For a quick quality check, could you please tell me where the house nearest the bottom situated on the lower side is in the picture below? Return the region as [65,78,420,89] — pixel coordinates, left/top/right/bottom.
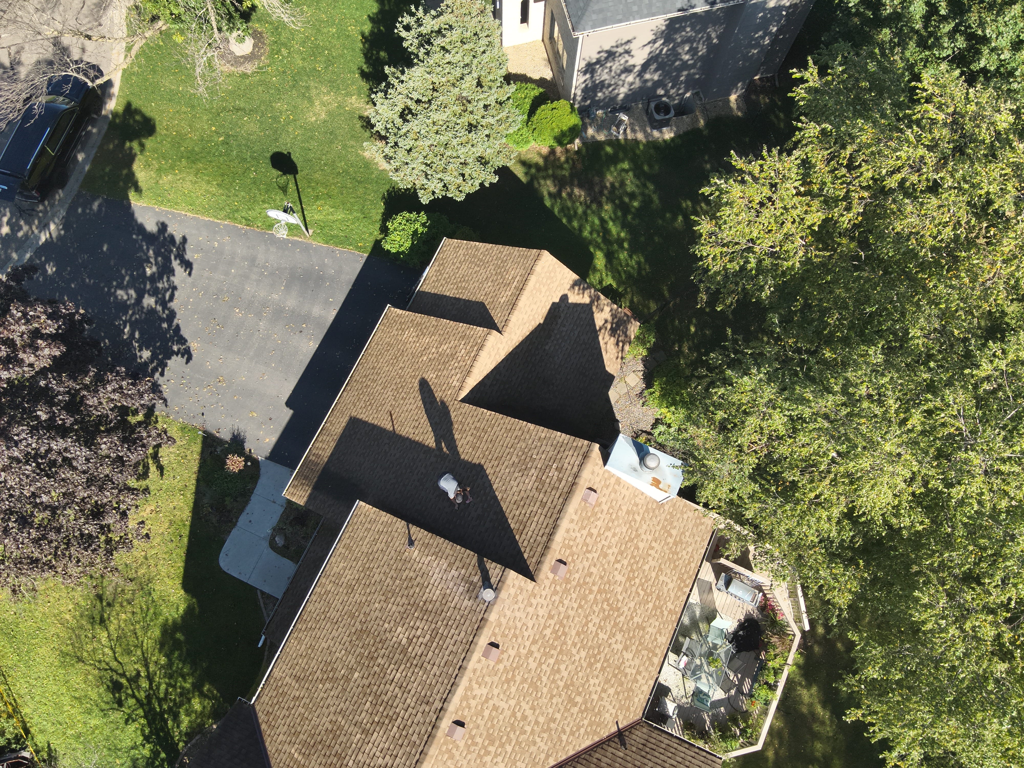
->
[184,238,725,768]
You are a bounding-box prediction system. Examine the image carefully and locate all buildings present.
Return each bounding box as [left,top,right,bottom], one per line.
[489,0,807,129]
[184,238,725,768]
